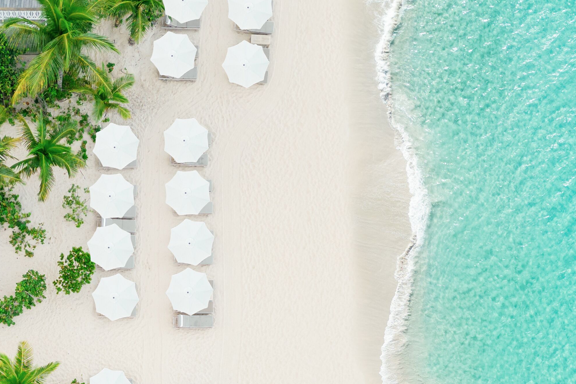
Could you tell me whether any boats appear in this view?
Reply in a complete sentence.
No, no boat is visible in the view.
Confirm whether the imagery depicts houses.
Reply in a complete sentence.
No, the photo shows no house.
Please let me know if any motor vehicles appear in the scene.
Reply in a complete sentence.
No, no motor vehicle can be seen from above.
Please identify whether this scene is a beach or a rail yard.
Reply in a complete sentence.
It's a beach.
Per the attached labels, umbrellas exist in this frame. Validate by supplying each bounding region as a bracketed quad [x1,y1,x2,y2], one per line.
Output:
[163,221,212,270]
[89,277,135,324]
[217,44,266,93]
[161,121,206,165]
[88,368,126,384]
[147,36,195,84]
[162,0,206,32]
[224,0,269,39]
[162,270,209,318]
[162,174,206,219]
[91,125,138,173]
[83,226,131,272]
[88,177,132,222]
